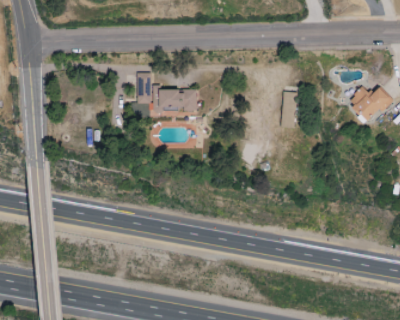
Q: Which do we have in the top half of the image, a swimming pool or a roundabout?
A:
swimming pool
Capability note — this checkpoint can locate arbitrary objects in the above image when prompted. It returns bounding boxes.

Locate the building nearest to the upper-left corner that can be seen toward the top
[138,72,152,102]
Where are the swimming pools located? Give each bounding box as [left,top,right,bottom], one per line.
[328,64,370,108]
[147,114,198,148]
